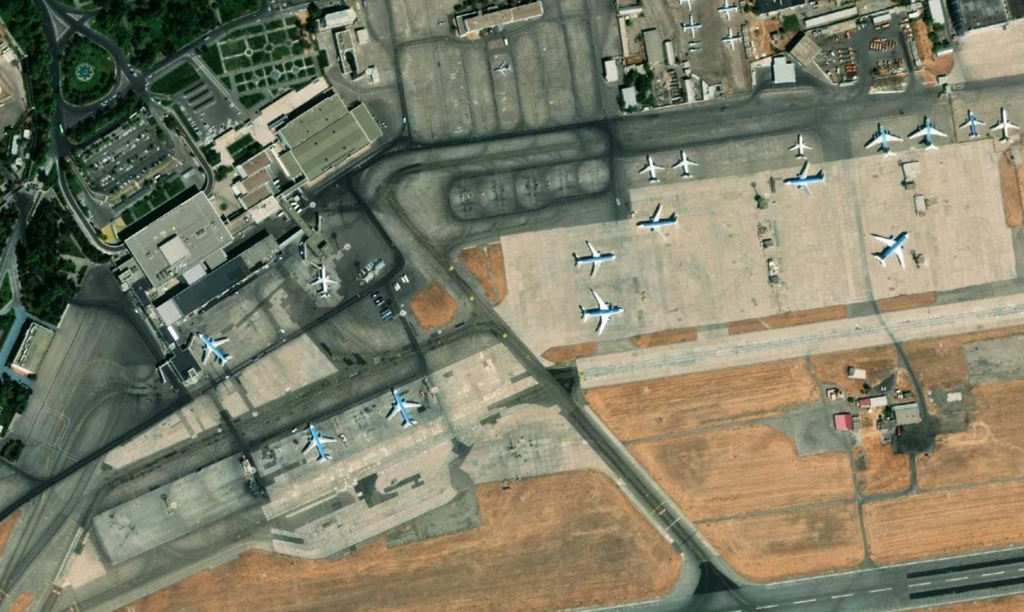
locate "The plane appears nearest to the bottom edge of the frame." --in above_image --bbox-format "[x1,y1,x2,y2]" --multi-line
[303,425,336,463]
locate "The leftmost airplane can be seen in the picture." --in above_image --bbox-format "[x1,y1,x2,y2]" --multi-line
[199,334,231,366]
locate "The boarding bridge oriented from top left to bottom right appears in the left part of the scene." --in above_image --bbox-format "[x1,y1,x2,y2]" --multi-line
[304,243,321,269]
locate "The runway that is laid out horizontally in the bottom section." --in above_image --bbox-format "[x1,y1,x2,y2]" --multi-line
[580,547,1024,612]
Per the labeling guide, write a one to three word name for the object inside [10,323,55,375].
building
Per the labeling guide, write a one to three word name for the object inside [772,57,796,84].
hangar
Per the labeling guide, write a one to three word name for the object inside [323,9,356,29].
hangar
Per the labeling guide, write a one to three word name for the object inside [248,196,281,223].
building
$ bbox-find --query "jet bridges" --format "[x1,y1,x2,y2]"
[317,216,325,231]
[185,334,195,348]
[157,359,172,384]
[304,243,321,269]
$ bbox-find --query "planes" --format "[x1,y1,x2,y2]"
[303,425,336,463]
[581,291,624,334]
[913,119,948,149]
[718,0,737,20]
[311,265,337,297]
[388,390,420,428]
[199,334,231,366]
[962,111,986,138]
[993,108,1019,143]
[684,15,701,37]
[674,151,698,177]
[495,63,512,74]
[641,156,664,183]
[790,134,812,159]
[721,28,742,50]
[869,126,904,155]
[574,241,615,277]
[870,231,908,269]
[637,204,680,239]
[784,162,827,196]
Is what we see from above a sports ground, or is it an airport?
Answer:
airport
